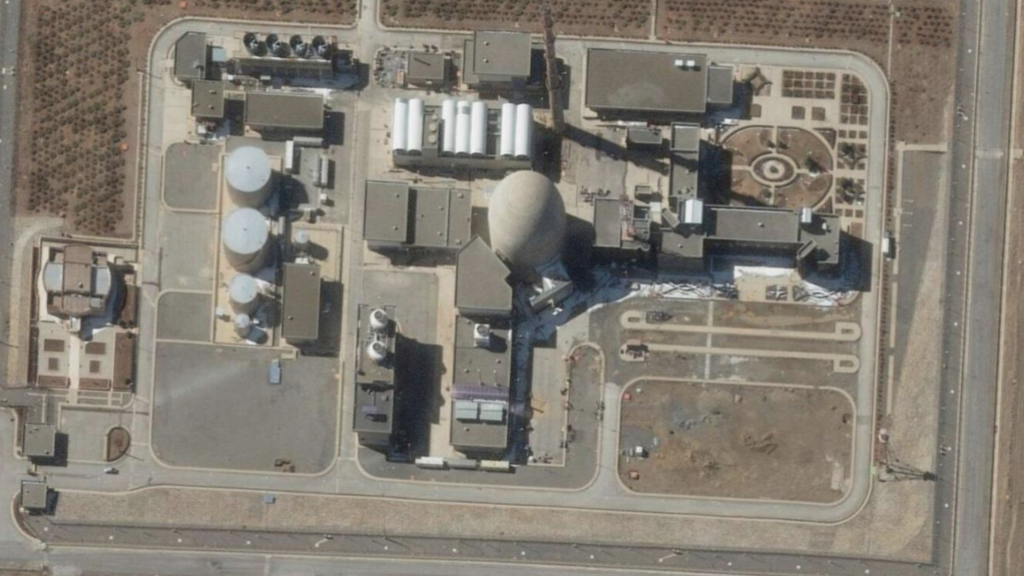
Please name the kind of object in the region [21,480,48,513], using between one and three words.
building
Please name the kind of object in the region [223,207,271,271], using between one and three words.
storage tank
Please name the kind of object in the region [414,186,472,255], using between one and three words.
building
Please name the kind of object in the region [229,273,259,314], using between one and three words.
storage tank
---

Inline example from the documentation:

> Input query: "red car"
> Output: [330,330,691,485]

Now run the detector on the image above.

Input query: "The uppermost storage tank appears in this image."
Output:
[226,145,274,209]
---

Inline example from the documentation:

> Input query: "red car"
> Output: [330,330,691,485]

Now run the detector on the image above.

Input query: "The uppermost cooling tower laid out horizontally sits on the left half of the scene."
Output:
[233,32,353,77]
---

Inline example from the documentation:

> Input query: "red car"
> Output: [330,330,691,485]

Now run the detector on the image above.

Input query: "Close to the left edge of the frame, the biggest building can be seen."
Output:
[43,245,114,337]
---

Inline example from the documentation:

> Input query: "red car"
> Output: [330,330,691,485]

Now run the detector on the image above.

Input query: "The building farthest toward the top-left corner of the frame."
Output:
[174,31,207,85]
